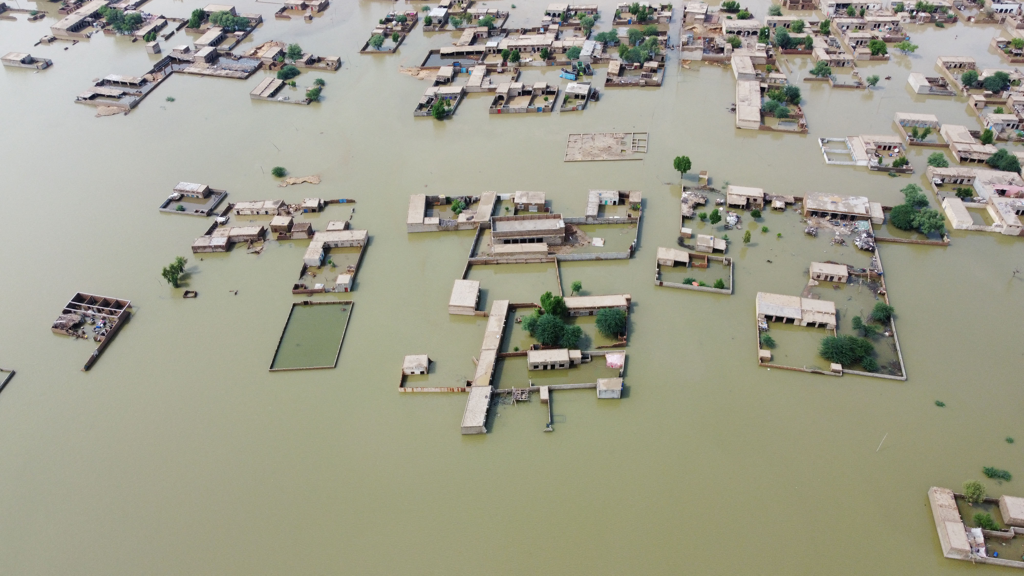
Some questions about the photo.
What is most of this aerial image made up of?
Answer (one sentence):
What you mostly see from above here is water.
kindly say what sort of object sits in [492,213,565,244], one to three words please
building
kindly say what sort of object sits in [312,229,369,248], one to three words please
house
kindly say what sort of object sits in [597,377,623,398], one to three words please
house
